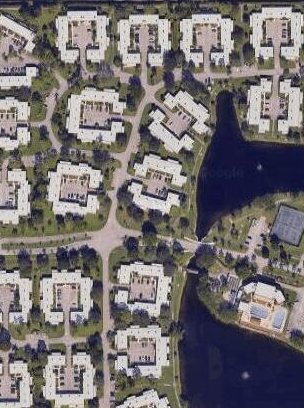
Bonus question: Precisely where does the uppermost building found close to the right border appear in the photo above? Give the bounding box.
[250,7,304,62]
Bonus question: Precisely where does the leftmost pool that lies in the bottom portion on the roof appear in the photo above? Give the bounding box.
[249,305,270,319]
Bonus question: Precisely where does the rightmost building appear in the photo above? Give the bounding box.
[280,80,304,132]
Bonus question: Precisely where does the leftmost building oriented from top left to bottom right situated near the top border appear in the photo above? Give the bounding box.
[0,13,36,51]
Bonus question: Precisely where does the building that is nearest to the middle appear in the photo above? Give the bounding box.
[129,182,181,214]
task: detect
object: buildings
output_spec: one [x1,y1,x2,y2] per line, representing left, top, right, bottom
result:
[114,388,169,408]
[134,153,185,186]
[115,326,169,379]
[40,271,94,326]
[115,264,169,317]
[129,182,181,214]
[57,11,109,65]
[237,281,288,335]
[118,14,171,69]
[49,162,104,216]
[0,13,36,51]
[181,14,234,69]
[162,90,210,134]
[69,89,124,143]
[248,80,273,132]
[0,68,35,90]
[0,169,30,224]
[280,80,304,132]
[0,361,33,408]
[149,108,195,153]
[250,7,304,62]
[0,271,32,326]
[43,351,96,406]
